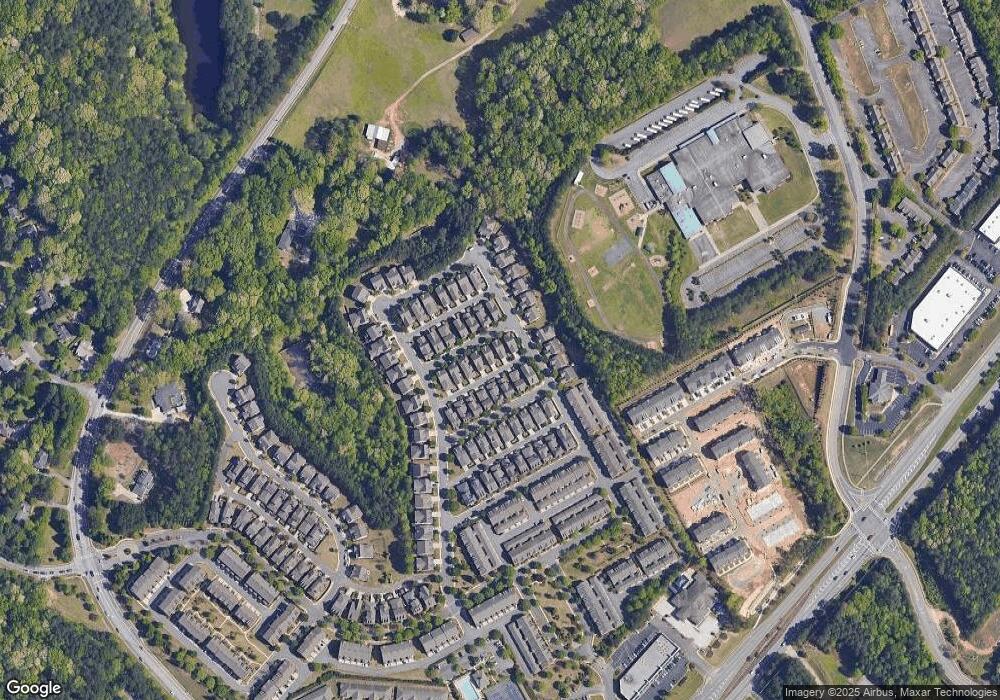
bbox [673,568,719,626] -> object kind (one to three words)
building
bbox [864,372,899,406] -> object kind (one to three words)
building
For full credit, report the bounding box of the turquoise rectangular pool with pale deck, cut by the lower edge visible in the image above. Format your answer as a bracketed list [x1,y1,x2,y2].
[452,672,484,700]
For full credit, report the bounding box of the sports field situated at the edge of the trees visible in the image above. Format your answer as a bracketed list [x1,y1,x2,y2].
[564,189,666,346]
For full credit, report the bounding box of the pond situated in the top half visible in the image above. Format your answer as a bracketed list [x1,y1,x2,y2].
[171,0,226,121]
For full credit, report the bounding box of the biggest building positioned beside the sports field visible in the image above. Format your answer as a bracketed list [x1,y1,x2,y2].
[646,114,791,238]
